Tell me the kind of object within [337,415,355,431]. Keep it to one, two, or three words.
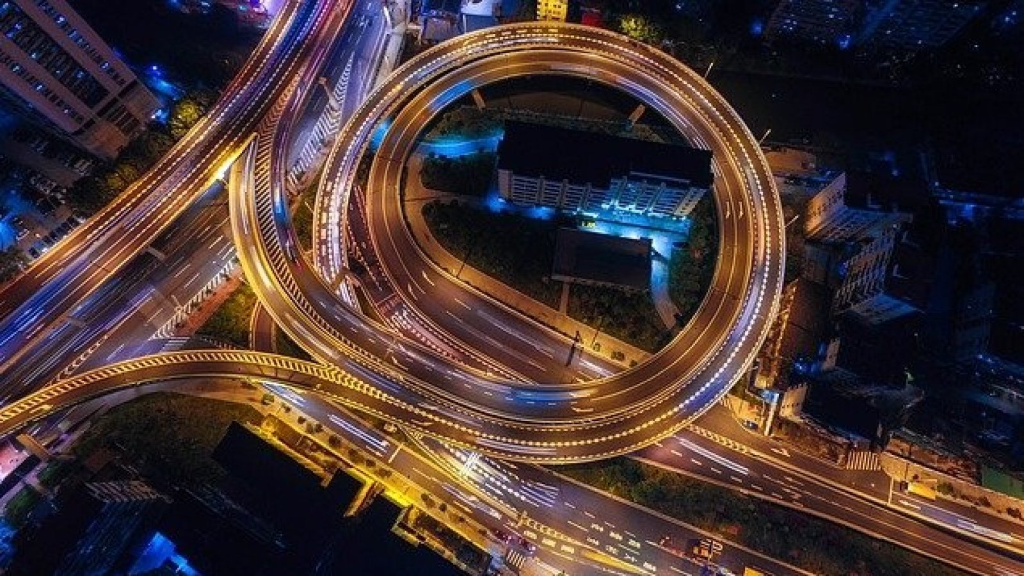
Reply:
car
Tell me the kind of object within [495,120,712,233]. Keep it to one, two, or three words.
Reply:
building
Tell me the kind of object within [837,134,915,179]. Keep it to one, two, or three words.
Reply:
house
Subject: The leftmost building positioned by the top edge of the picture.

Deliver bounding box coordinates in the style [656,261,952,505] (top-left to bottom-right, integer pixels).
[0,0,162,154]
